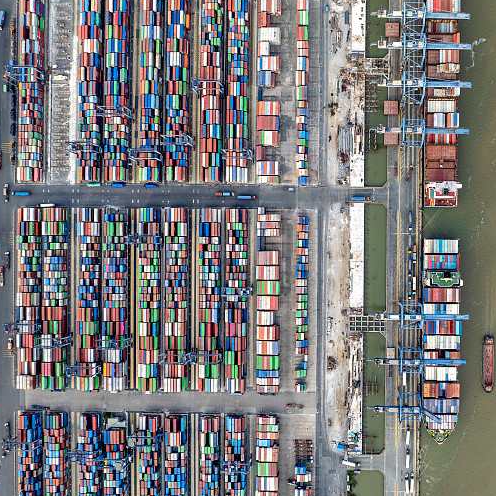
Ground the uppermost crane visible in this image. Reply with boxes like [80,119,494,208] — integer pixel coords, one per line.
[373,2,471,42]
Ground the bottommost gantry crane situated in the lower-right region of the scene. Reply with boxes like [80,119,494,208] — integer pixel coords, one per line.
[369,381,437,426]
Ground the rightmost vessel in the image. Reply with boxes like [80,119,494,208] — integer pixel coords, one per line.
[481,334,494,392]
